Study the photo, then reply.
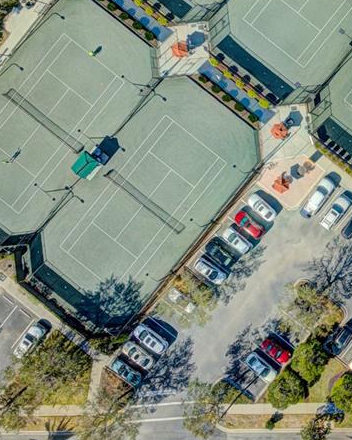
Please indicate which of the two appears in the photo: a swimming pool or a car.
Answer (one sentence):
Visible in the photo is a car.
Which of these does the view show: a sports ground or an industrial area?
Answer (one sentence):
The area seen from above is a sports ground.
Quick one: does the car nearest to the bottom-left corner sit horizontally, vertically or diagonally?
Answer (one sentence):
Seen from above, the car nearest to the bottom-left corner lies diagonally.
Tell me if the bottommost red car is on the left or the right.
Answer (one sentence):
The bottommost red car appears in the right half of the scene.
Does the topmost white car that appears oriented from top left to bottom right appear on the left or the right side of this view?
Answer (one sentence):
The topmost white car that appears oriented from top left to bottom right appears in the right half of the scene.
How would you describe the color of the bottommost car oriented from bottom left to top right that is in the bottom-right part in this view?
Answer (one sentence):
In this view, the bottommost car oriented from bottom left to top right that is in the bottom-right part is black.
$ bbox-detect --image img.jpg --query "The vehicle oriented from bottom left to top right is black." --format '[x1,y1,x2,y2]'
[325,322,352,357]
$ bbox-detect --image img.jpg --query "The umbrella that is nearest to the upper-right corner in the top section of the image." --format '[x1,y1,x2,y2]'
[273,121,289,137]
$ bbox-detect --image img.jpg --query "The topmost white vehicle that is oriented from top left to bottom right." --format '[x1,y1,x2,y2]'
[245,194,277,223]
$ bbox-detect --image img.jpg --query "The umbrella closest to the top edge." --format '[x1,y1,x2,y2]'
[173,40,191,57]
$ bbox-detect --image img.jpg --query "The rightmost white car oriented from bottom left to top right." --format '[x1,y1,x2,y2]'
[320,195,349,229]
